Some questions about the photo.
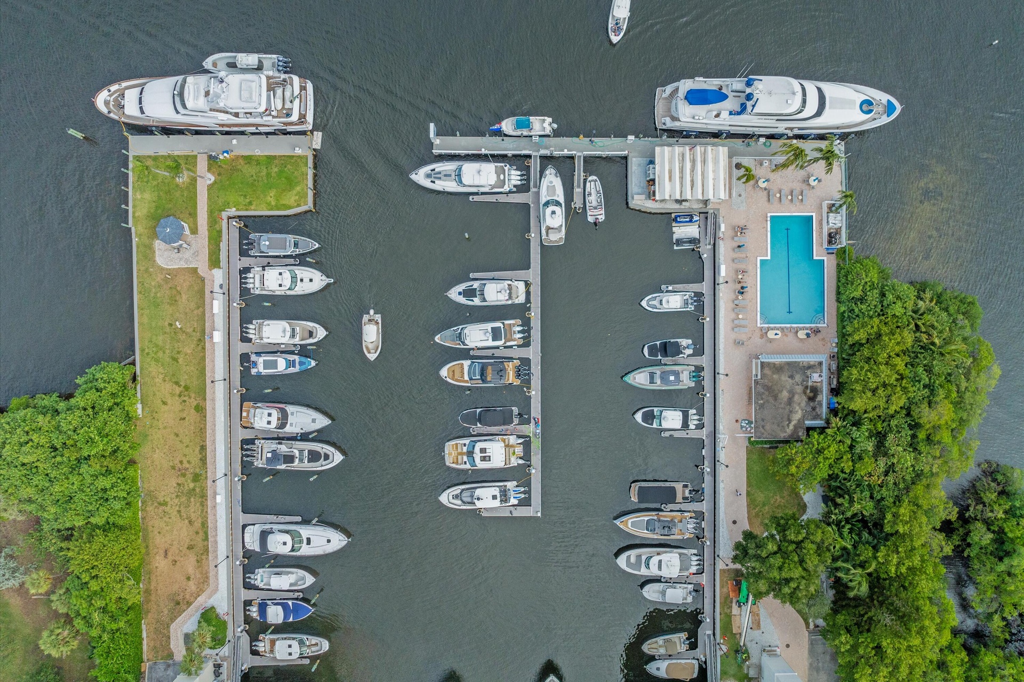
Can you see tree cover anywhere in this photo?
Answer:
Yes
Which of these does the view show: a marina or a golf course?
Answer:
marina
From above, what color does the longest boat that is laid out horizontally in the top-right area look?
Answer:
white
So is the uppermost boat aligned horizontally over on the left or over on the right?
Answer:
left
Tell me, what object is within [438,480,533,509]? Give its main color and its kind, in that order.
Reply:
white boat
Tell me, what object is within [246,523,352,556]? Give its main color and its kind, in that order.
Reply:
white boat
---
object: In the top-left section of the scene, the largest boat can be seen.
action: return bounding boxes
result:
[93,72,315,130]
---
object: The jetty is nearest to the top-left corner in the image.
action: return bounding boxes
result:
[129,135,315,157]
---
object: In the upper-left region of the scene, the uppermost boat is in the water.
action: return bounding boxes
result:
[202,51,294,75]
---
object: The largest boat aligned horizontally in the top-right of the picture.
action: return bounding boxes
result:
[653,60,909,134]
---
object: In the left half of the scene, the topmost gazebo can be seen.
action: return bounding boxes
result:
[150,211,189,243]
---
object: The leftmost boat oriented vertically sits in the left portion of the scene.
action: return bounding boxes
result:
[363,300,382,361]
